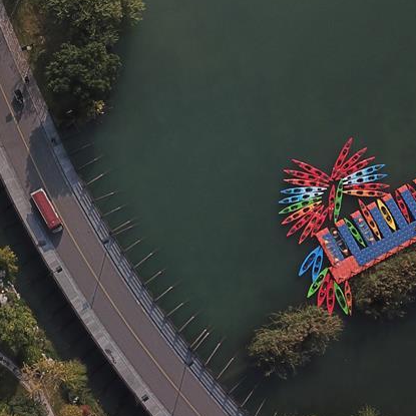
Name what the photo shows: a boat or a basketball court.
boat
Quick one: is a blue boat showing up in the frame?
Yes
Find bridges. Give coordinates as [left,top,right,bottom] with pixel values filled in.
[0,128,255,416]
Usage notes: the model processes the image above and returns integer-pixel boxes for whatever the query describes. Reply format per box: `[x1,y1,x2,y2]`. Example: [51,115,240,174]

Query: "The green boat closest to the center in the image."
[280,198,321,213]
